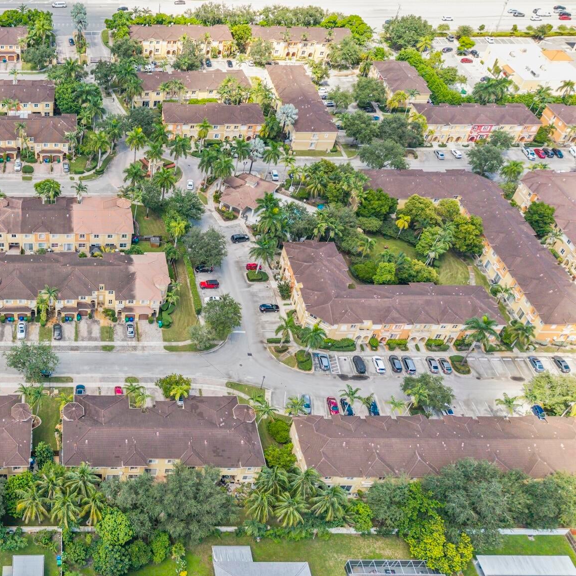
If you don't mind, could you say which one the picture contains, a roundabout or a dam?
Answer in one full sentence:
I can see a roundabout in this picture.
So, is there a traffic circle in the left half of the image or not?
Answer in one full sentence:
Yes, there is a traffic circle in the left half of the image.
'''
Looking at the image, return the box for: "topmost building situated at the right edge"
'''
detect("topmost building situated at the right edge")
[483,44,576,97]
